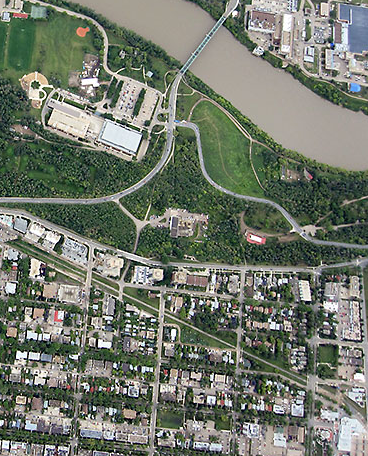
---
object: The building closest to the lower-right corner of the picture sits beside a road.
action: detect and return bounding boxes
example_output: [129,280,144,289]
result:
[337,419,366,451]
